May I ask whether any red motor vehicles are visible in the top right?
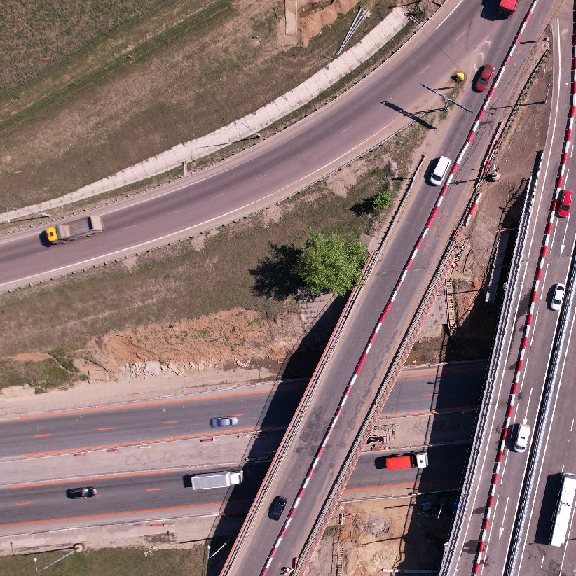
Yes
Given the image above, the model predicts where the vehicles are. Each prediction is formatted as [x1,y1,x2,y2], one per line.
[429,155,452,188]
[68,485,95,498]
[514,421,529,453]
[189,469,247,490]
[549,467,576,547]
[473,63,494,94]
[269,494,288,520]
[552,282,565,311]
[210,415,238,429]
[48,215,107,244]
[497,0,520,17]
[384,452,430,470]
[557,189,572,218]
